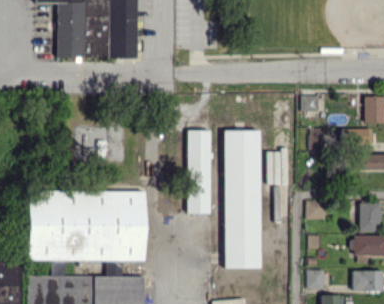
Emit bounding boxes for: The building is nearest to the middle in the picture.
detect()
[187,130,212,214]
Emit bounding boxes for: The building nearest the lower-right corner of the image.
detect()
[352,270,384,291]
